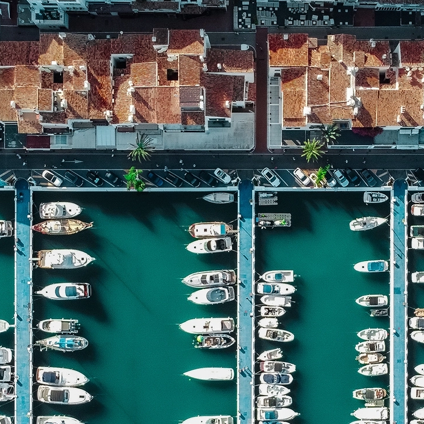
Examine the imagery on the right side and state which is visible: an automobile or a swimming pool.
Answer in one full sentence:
There is an automobile on the right side.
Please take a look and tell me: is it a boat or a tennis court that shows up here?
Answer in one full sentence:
This aerial view contains a boat.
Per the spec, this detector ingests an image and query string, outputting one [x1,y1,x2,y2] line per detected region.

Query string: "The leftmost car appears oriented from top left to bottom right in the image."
[40,168,64,189]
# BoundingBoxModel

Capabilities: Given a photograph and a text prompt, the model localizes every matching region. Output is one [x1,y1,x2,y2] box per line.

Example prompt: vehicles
[343,165,364,189]
[162,169,184,190]
[102,168,126,189]
[143,168,166,190]
[258,165,282,189]
[323,169,341,190]
[291,165,312,188]
[211,165,232,187]
[181,169,204,190]
[40,168,64,189]
[83,168,106,189]
[359,167,380,189]
[60,168,83,189]
[331,167,351,190]
[196,167,220,189]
